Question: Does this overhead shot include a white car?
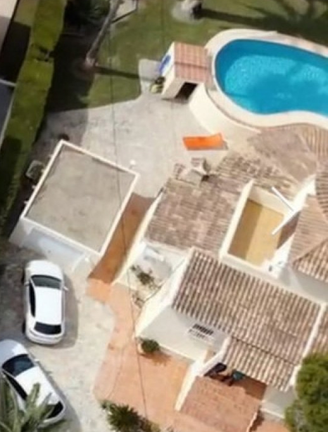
Yes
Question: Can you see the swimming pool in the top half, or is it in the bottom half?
top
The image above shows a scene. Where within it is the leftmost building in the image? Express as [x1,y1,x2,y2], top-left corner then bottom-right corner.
[11,142,139,280]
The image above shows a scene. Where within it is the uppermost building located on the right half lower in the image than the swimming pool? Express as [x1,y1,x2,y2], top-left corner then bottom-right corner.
[133,123,328,386]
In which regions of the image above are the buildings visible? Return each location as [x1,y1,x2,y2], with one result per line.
[159,43,209,102]
[133,123,328,386]
[11,142,139,280]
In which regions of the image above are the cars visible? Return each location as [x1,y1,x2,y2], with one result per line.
[0,344,69,432]
[23,259,71,345]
